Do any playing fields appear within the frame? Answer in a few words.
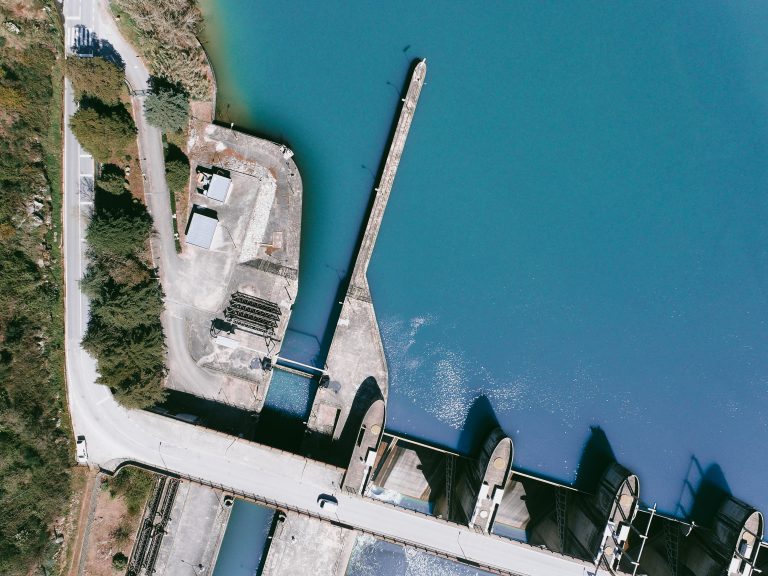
No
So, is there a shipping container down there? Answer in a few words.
No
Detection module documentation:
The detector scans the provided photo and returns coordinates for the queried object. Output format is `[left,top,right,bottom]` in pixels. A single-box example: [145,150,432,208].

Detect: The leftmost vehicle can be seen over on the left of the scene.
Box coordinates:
[76,439,88,463]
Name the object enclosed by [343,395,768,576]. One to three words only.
dam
